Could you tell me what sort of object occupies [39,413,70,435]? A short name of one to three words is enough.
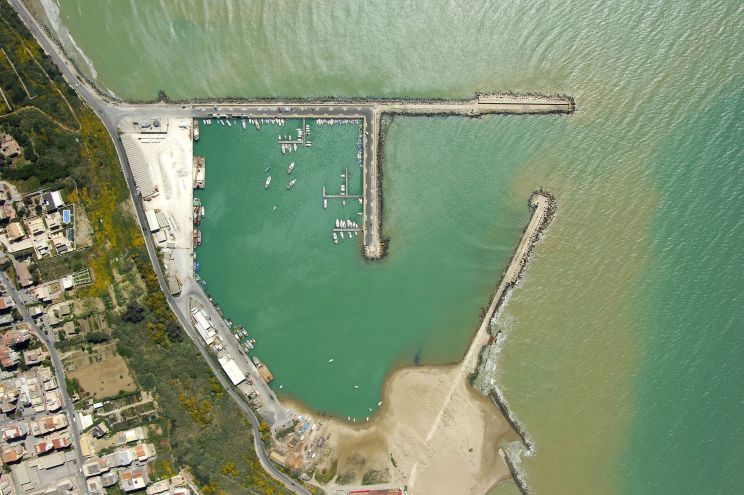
house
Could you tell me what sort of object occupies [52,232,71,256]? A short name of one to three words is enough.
house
